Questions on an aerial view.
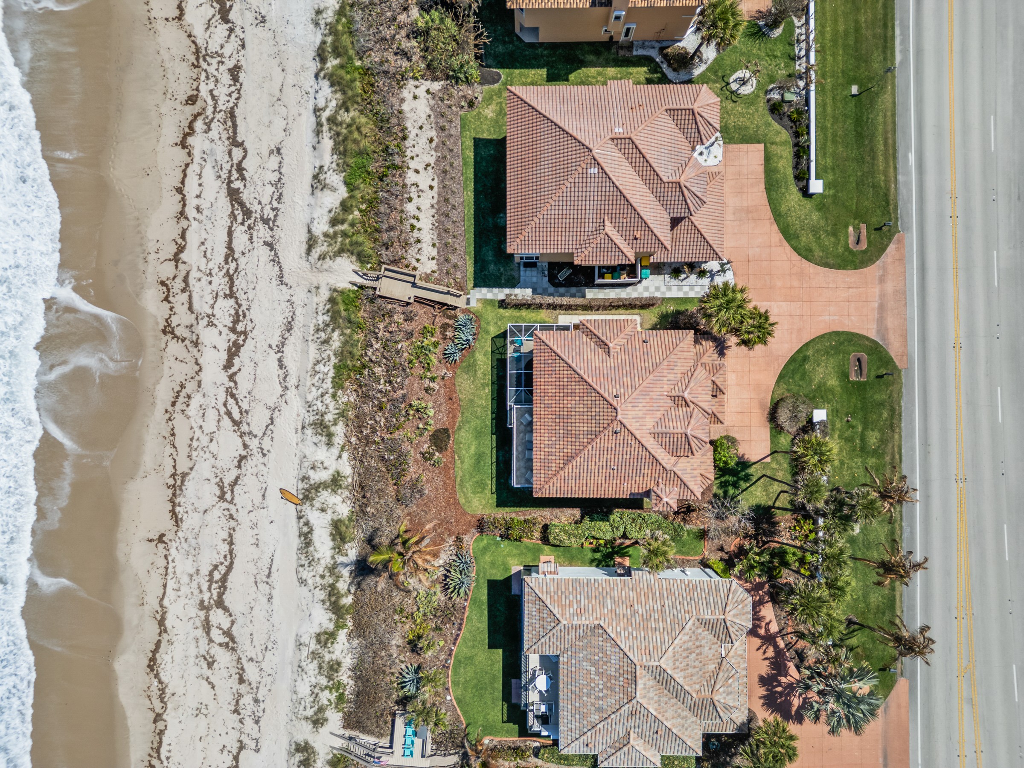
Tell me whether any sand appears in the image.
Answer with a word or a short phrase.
Yes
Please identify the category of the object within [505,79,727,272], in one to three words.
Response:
house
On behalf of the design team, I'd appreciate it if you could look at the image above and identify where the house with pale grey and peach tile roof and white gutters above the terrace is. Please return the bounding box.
[522,560,754,768]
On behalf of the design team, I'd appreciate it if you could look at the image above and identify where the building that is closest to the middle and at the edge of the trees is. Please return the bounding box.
[532,317,728,513]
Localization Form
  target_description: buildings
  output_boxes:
[504,0,714,55]
[532,317,728,513]
[505,79,727,272]
[522,560,754,768]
